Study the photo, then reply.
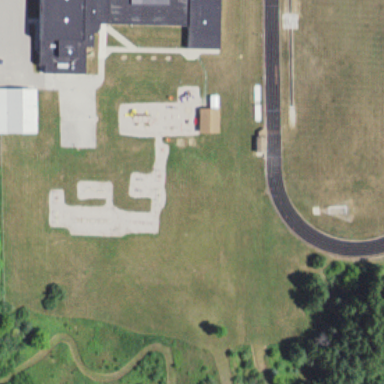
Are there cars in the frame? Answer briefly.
No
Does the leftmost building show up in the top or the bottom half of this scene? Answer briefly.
top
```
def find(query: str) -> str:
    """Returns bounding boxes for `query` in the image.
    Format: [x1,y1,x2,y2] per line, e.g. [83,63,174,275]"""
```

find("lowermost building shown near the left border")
[0,88,38,134]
